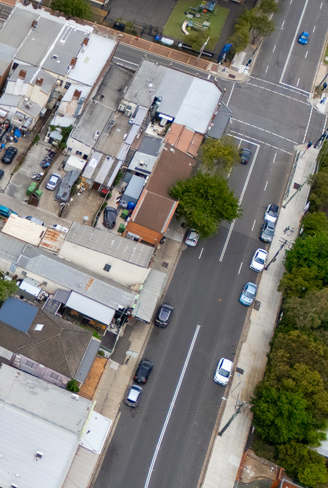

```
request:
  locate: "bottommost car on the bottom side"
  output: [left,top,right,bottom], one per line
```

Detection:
[122,383,143,410]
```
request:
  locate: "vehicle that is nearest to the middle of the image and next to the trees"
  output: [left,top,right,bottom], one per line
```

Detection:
[183,228,200,249]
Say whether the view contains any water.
No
